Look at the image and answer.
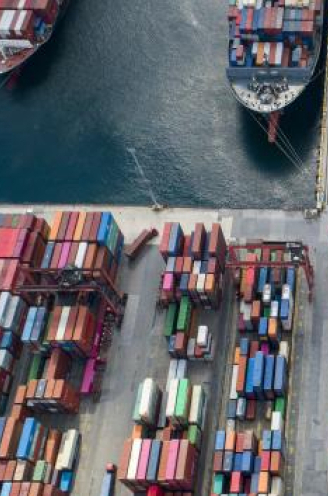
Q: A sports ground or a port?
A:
port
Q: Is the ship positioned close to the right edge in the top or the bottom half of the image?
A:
top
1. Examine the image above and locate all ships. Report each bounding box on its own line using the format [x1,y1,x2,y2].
[0,0,80,100]
[227,0,324,192]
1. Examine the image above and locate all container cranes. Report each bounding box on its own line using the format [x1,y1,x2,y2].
[5,263,129,321]
[223,241,317,299]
